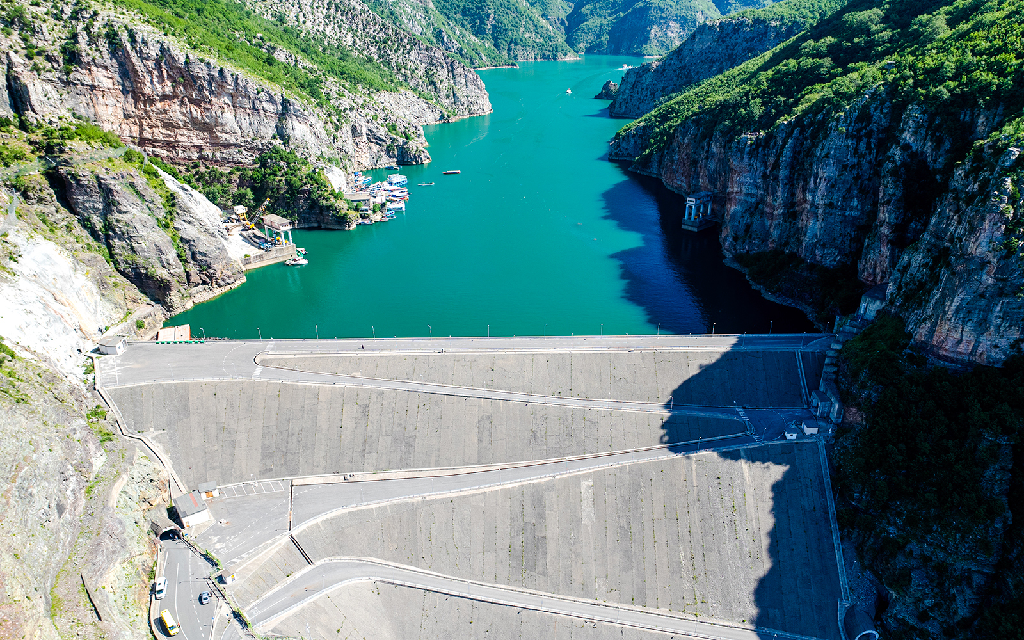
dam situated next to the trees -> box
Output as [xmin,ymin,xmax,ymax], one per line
[98,330,860,640]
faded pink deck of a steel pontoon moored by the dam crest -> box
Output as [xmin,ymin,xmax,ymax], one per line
[157,323,191,339]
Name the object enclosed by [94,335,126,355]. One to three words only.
building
